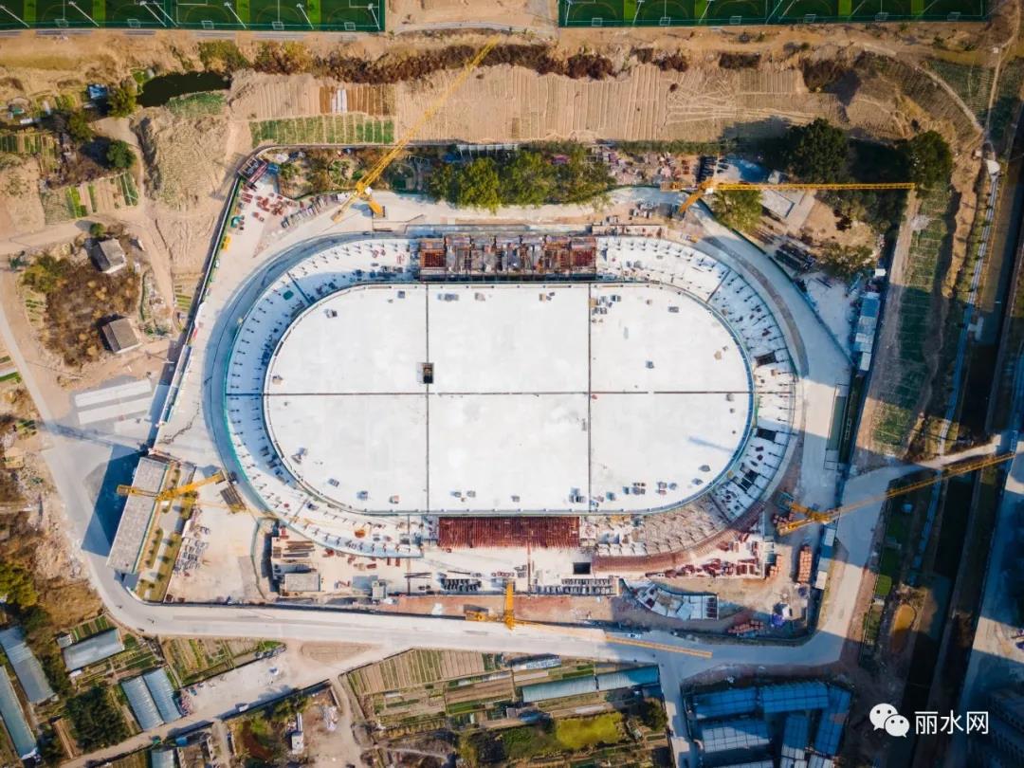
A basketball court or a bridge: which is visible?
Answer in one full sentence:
The image shows a bridge.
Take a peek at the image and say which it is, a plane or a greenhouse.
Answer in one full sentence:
There is a greenhouse in the scene.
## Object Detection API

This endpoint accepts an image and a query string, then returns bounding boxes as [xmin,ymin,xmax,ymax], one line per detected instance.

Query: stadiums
[223,234,799,571]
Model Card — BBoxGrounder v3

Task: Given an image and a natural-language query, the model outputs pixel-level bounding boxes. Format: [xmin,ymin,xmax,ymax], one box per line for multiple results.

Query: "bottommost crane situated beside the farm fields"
[464,572,714,659]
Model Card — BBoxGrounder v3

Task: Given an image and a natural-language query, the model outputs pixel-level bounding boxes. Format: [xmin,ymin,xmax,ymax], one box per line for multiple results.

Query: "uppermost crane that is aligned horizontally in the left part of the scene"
[115,466,367,535]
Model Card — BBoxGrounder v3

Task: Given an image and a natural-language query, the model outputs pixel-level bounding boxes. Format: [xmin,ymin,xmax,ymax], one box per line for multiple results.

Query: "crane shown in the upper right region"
[658,181,919,219]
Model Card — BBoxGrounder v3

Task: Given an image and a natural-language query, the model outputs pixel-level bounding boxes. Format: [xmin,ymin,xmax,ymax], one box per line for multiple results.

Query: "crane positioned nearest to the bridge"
[775,452,1018,534]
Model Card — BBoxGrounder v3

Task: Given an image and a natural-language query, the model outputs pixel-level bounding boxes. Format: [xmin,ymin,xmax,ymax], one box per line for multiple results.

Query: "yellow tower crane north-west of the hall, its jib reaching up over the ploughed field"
[331,39,499,225]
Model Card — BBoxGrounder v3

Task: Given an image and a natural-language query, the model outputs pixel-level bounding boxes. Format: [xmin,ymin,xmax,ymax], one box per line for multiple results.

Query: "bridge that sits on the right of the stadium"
[925,429,1016,470]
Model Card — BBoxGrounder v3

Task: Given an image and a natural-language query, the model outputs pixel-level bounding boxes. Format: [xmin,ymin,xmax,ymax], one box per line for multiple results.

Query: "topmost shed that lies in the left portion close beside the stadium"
[163,347,193,419]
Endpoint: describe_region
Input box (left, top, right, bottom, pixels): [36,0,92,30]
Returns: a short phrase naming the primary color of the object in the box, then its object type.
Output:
green soccer field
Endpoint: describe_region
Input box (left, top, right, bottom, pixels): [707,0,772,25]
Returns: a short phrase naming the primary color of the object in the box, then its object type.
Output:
green soccer field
